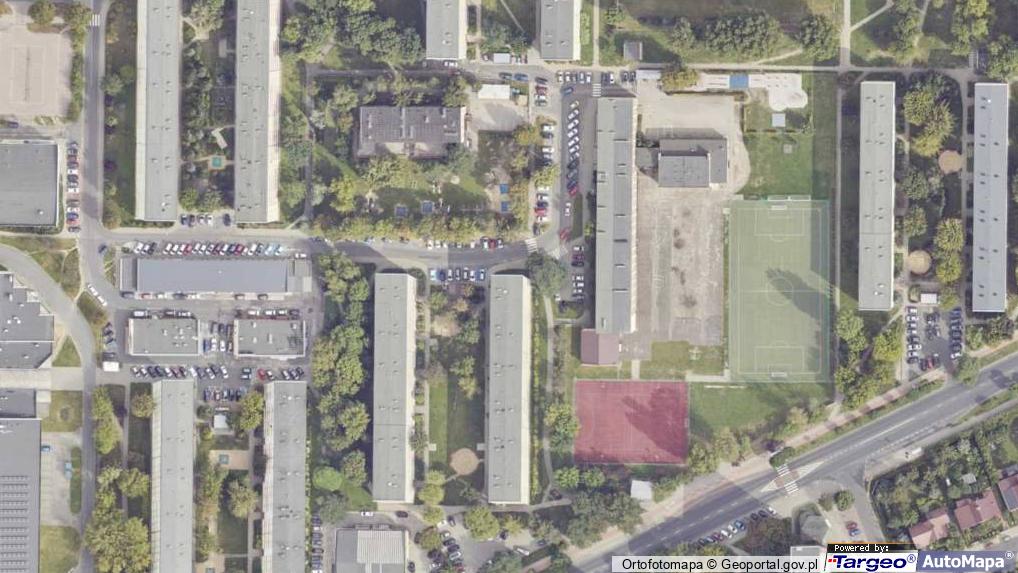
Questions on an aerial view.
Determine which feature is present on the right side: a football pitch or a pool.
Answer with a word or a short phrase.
football pitch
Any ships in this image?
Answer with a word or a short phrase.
No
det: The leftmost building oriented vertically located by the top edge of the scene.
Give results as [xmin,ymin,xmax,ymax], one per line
[137,0,179,224]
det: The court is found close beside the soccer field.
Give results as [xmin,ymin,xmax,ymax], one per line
[573,379,690,467]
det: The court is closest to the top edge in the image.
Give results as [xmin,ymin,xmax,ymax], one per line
[0,25,72,121]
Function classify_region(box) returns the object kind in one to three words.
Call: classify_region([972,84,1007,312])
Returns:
building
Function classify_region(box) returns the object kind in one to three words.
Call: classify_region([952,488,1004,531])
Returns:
house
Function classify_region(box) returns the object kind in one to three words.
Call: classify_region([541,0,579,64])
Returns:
building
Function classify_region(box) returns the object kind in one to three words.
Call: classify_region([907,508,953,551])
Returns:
house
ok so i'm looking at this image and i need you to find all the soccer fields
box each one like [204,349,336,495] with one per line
[729,200,828,382]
